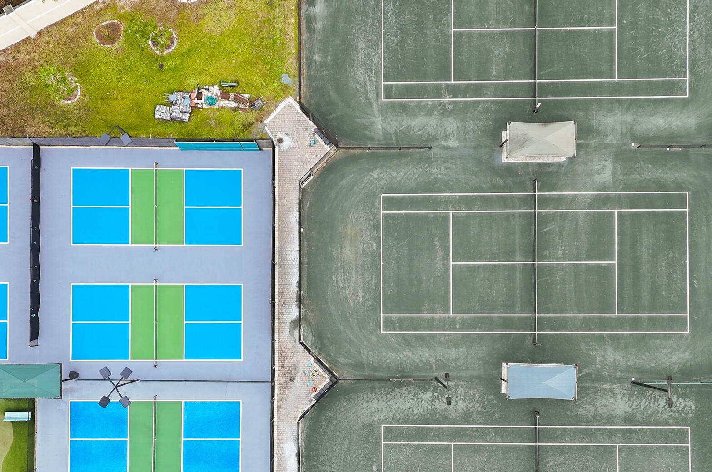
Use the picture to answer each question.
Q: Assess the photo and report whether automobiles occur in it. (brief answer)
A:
No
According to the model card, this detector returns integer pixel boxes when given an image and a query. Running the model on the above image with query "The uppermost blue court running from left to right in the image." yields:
[71,167,243,246]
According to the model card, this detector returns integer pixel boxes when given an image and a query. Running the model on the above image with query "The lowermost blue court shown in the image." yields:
[68,400,242,472]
